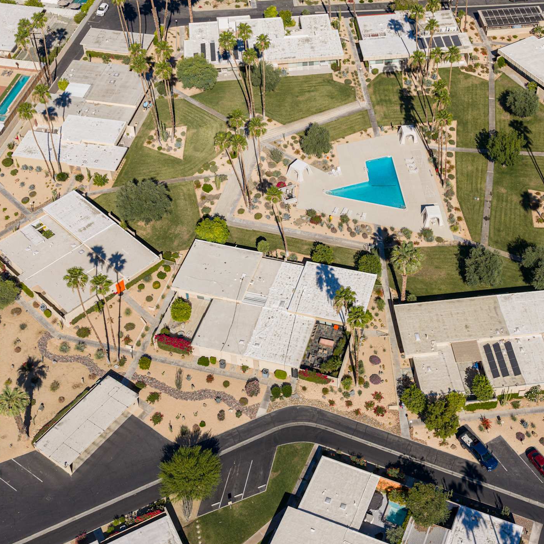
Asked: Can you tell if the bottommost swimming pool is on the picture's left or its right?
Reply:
right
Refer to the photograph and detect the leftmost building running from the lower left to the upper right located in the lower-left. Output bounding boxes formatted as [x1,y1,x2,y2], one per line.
[36,370,139,472]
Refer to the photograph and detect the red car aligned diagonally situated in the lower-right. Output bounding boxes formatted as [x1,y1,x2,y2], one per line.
[525,449,544,478]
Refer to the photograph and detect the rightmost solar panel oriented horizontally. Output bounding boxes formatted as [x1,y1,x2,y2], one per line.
[483,8,542,25]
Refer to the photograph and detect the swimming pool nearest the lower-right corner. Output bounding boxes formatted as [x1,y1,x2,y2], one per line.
[382,498,411,527]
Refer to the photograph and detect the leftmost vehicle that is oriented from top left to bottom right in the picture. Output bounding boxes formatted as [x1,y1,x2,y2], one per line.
[457,432,493,470]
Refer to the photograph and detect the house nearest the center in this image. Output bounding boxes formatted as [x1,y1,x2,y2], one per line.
[155,239,377,375]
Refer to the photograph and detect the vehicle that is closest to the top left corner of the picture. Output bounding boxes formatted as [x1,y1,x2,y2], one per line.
[95,0,111,15]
